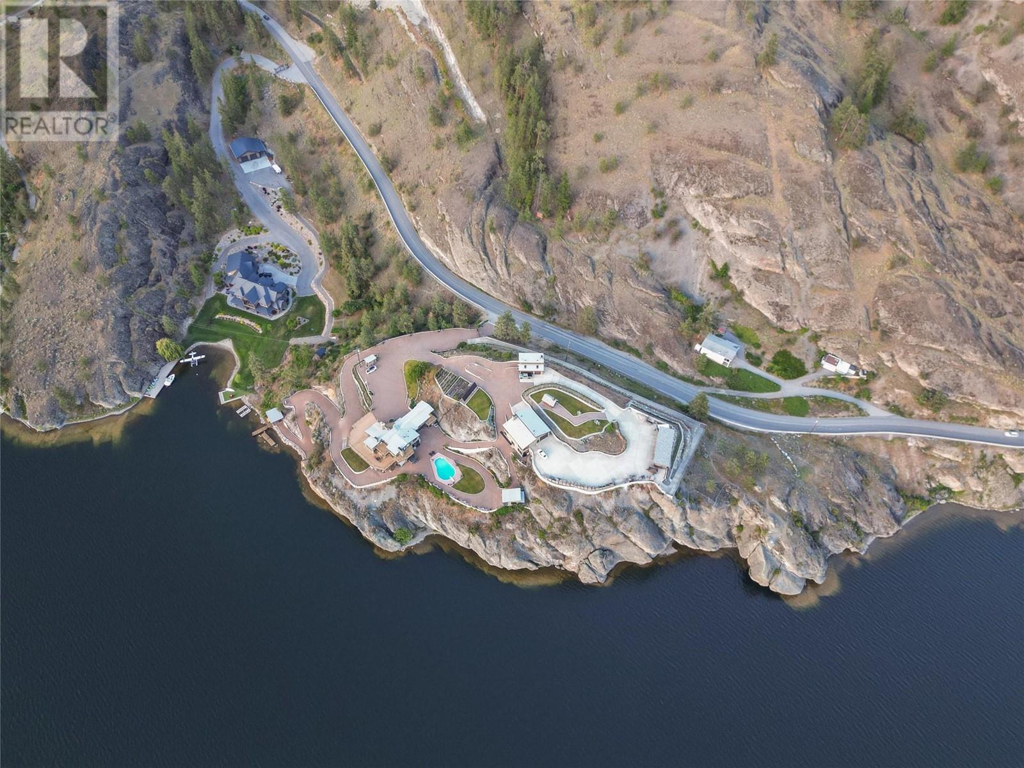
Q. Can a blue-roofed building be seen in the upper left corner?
Yes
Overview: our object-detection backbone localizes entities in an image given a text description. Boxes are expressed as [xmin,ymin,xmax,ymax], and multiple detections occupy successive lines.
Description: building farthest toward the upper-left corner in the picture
[229,138,271,164]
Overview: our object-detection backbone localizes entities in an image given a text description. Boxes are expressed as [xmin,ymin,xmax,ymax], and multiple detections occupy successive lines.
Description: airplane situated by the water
[181,350,205,369]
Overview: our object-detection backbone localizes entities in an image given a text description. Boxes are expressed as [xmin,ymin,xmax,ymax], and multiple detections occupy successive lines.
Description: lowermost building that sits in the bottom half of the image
[502,488,525,507]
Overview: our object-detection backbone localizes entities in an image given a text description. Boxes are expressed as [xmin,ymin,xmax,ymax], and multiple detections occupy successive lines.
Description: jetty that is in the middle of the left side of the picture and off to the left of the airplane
[144,360,182,401]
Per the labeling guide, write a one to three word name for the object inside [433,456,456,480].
swimming pool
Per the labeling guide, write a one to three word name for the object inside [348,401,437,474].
house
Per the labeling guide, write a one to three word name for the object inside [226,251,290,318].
house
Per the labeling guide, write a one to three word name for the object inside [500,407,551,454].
building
